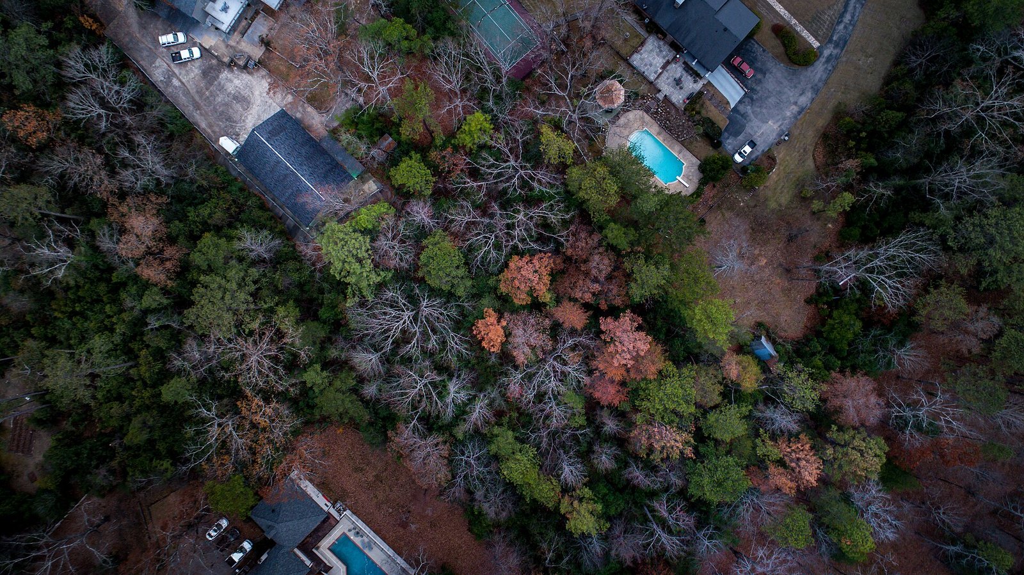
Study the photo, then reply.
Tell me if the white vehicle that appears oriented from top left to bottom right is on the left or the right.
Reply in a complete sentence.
It is on the left.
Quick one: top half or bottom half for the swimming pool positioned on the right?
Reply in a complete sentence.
You can find the swimming pool positioned on the right in the top half.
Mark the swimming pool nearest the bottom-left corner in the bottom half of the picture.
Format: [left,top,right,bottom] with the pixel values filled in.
[312,514,418,575]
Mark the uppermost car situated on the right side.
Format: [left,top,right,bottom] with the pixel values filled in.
[729,55,754,78]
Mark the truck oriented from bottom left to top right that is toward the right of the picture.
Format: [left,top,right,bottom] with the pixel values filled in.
[732,138,758,165]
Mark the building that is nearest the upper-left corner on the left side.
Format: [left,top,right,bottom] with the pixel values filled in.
[164,0,259,38]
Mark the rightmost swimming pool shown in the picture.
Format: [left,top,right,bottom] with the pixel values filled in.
[607,110,704,193]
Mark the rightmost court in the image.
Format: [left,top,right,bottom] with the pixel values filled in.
[457,0,539,65]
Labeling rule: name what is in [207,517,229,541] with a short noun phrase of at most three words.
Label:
car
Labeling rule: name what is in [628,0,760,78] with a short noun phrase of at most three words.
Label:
house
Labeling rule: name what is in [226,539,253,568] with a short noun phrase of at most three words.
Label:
truck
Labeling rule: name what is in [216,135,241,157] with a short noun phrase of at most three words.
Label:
vehicle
